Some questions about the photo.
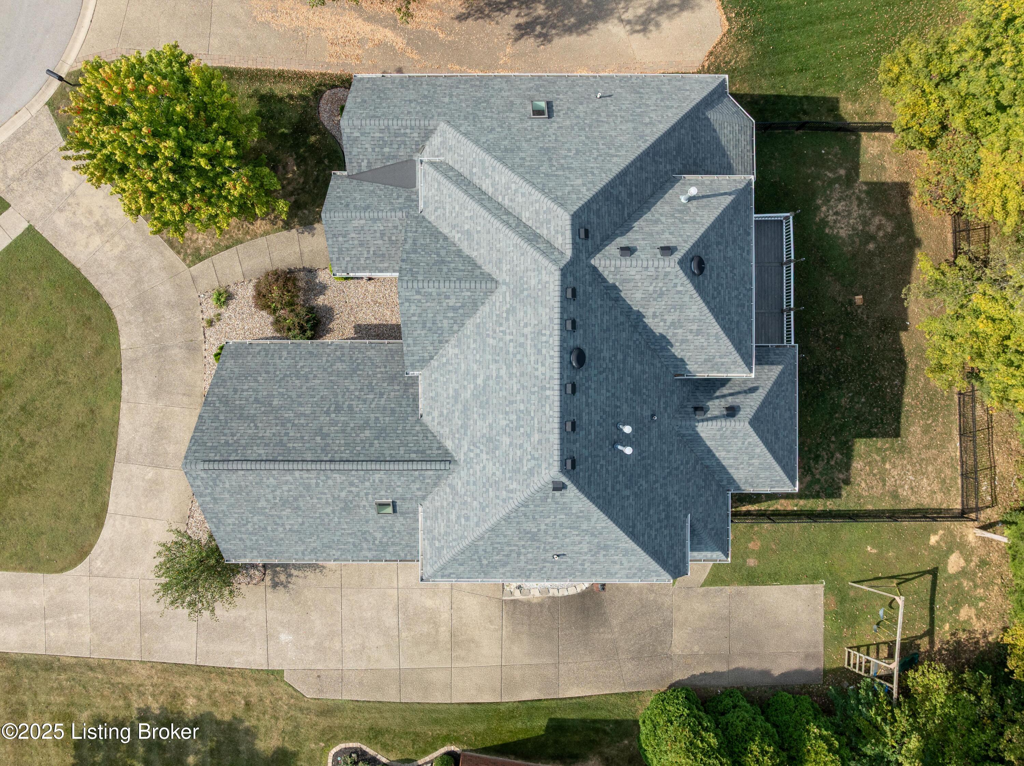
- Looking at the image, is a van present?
No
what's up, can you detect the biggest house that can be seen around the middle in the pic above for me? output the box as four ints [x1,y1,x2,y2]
[181,75,798,583]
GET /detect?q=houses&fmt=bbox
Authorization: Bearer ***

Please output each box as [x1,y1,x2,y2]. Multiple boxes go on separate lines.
[181,75,798,583]
[459,751,561,766]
